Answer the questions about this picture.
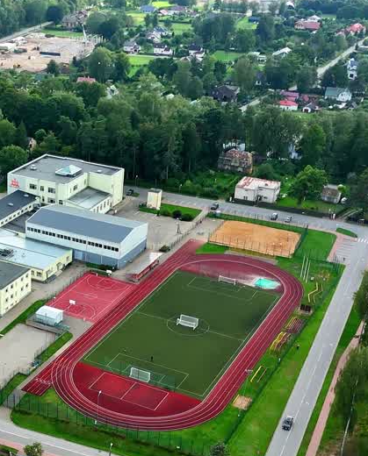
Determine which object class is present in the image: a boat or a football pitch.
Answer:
football pitch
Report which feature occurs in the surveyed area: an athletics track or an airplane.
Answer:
athletics track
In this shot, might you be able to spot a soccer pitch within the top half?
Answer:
No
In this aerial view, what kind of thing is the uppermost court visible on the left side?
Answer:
basketball court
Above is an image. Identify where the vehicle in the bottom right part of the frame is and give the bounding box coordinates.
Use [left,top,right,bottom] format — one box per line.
[281,415,294,429]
